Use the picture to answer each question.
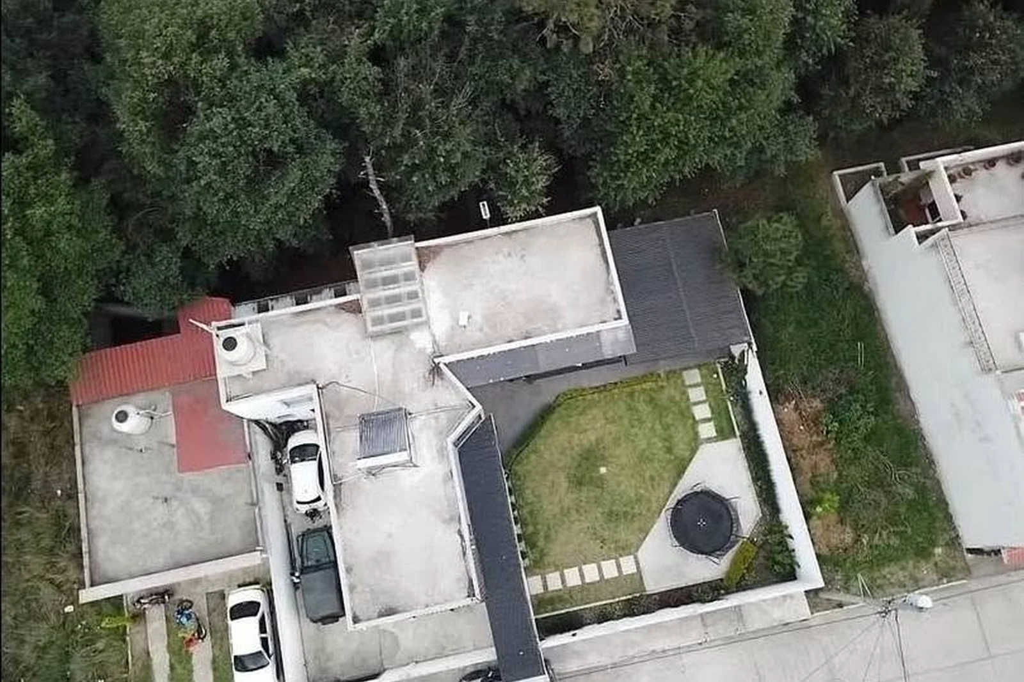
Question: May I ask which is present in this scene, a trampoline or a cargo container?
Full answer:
I can see a trampoline in this picture.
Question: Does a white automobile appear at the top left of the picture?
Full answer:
No, no white automobile is visible at the top left of the picture.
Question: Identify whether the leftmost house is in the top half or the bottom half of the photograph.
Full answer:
Seen from above, the leftmost house lies in the bottom half of the view.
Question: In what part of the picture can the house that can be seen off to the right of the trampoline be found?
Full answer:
The house that can be seen off to the right of the trampoline appears toward the right of the photo.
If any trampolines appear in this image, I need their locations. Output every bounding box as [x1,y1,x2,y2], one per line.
[667,483,748,566]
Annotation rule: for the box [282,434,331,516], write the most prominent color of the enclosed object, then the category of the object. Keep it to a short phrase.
white car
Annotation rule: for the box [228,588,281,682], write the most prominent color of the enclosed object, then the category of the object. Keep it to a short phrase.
white car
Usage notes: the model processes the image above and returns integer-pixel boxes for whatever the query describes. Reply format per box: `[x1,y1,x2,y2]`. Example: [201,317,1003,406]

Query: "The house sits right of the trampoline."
[827,138,1024,568]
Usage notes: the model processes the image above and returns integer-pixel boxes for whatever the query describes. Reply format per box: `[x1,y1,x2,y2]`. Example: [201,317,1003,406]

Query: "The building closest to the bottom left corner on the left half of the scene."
[71,294,268,603]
